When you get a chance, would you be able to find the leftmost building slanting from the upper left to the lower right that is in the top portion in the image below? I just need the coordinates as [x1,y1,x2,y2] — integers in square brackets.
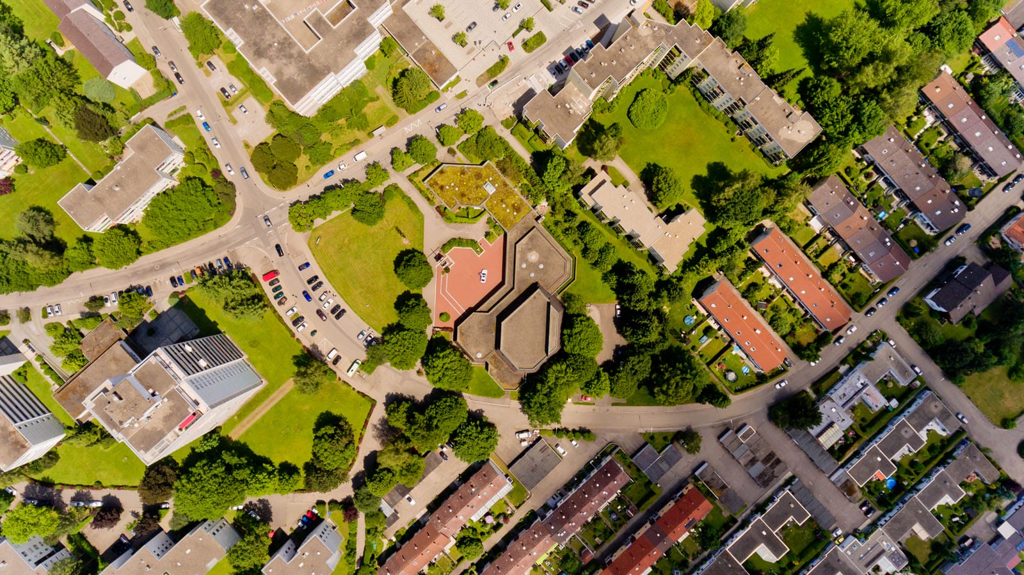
[59,8,145,87]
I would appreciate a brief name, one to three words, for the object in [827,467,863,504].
building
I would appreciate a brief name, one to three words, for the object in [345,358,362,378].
vehicle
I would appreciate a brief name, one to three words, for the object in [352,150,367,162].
vehicle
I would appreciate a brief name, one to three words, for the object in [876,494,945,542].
house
